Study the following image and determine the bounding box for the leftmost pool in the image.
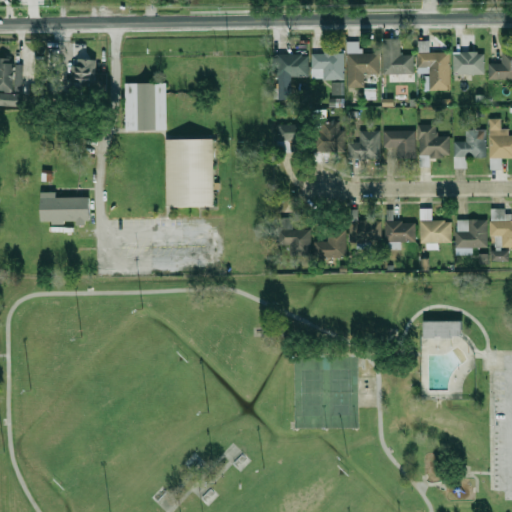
[422,338,476,400]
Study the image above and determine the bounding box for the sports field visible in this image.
[14,292,329,512]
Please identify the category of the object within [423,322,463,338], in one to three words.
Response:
building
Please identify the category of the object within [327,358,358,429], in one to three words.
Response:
tennis court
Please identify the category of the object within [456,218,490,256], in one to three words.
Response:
house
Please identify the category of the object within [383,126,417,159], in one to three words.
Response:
house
